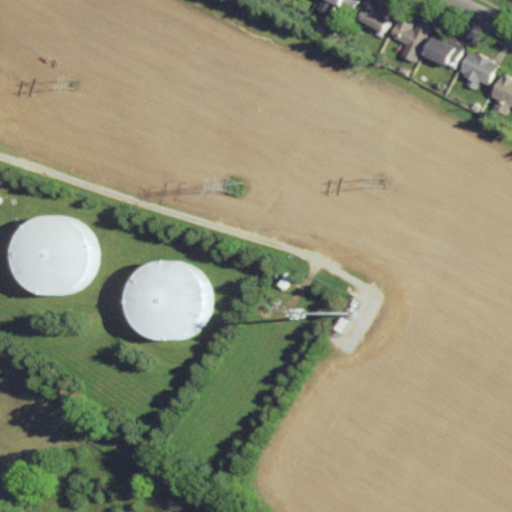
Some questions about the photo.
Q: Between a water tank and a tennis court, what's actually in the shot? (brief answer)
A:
water tank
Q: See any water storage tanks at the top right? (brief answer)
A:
No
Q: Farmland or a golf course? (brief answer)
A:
farmland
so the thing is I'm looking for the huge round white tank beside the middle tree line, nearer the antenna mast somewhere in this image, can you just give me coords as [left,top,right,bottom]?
[121,260,214,341]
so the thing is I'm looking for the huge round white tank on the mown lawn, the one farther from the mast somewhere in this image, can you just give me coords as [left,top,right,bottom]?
[8,215,102,296]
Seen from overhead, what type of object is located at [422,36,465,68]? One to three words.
house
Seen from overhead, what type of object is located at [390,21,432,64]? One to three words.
house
